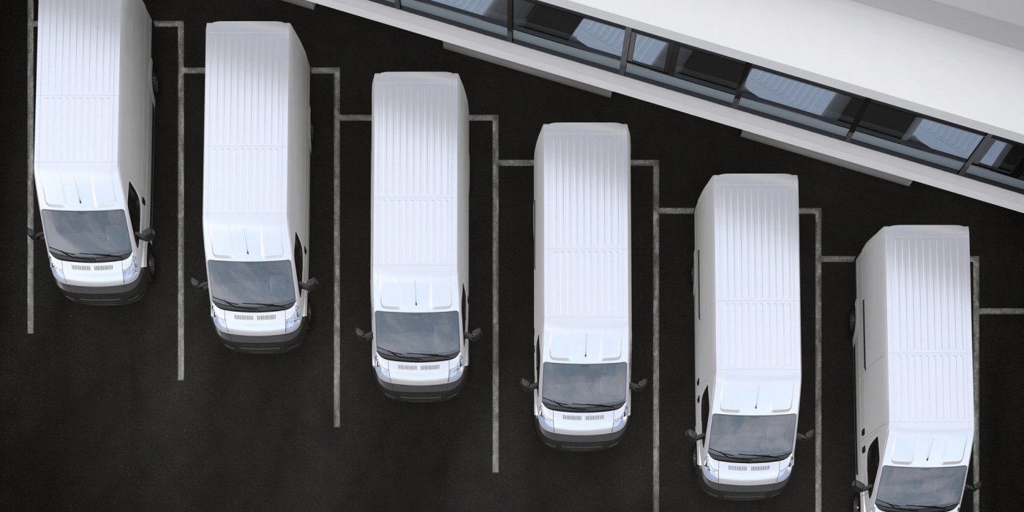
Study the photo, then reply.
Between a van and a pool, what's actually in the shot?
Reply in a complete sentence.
Visible in the photo is a van.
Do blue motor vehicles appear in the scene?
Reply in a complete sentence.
No, there's no blue motor vehicle here.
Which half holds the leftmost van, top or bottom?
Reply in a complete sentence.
You can find the leftmost van in the top half.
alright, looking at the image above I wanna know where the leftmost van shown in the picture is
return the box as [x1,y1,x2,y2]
[25,0,154,306]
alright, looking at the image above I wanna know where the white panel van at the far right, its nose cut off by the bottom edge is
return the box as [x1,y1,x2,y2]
[853,226,982,512]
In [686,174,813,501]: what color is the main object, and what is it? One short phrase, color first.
white van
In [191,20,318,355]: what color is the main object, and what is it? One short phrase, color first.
white van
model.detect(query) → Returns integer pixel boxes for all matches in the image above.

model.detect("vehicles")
[521,122,647,452]
[191,20,318,355]
[356,71,482,403]
[853,226,982,512]
[686,174,813,501]
[25,0,154,306]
